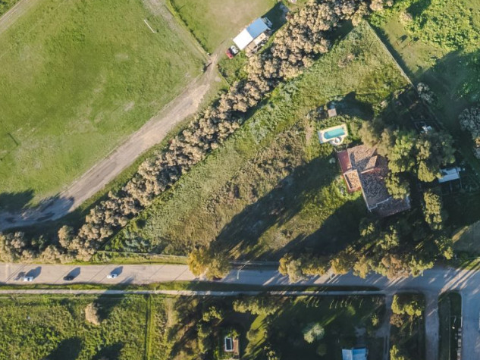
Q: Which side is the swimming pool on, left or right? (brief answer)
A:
right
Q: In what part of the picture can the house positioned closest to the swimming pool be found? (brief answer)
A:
right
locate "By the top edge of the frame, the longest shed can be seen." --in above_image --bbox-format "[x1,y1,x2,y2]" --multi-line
[234,18,270,49]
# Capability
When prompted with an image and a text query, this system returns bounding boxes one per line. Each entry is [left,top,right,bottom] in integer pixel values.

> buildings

[234,18,270,49]
[337,142,410,217]
[343,347,370,360]
[438,166,461,182]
